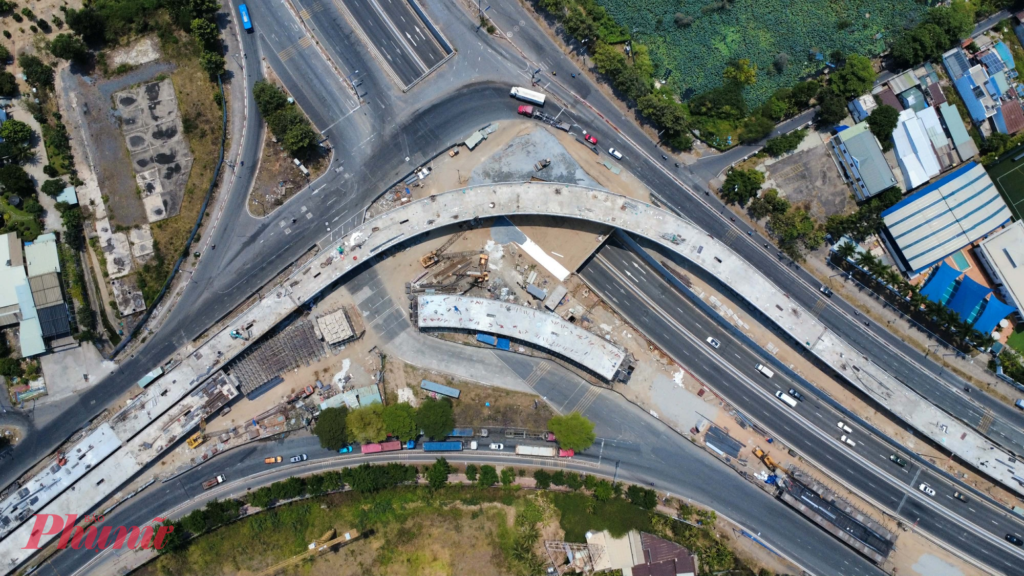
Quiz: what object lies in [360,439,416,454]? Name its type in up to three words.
vehicle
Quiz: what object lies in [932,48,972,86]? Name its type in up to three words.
house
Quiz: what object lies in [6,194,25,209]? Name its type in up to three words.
gazebo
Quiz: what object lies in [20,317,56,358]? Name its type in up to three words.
shed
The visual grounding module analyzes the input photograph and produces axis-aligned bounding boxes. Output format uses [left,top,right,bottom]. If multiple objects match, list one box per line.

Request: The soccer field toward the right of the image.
[982,140,1024,220]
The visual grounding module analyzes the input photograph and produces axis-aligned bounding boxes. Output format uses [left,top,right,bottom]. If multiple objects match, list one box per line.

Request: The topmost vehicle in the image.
[239,5,255,35]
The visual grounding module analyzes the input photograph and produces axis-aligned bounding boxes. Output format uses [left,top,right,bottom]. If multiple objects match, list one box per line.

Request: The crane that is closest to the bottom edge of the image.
[250,519,360,576]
